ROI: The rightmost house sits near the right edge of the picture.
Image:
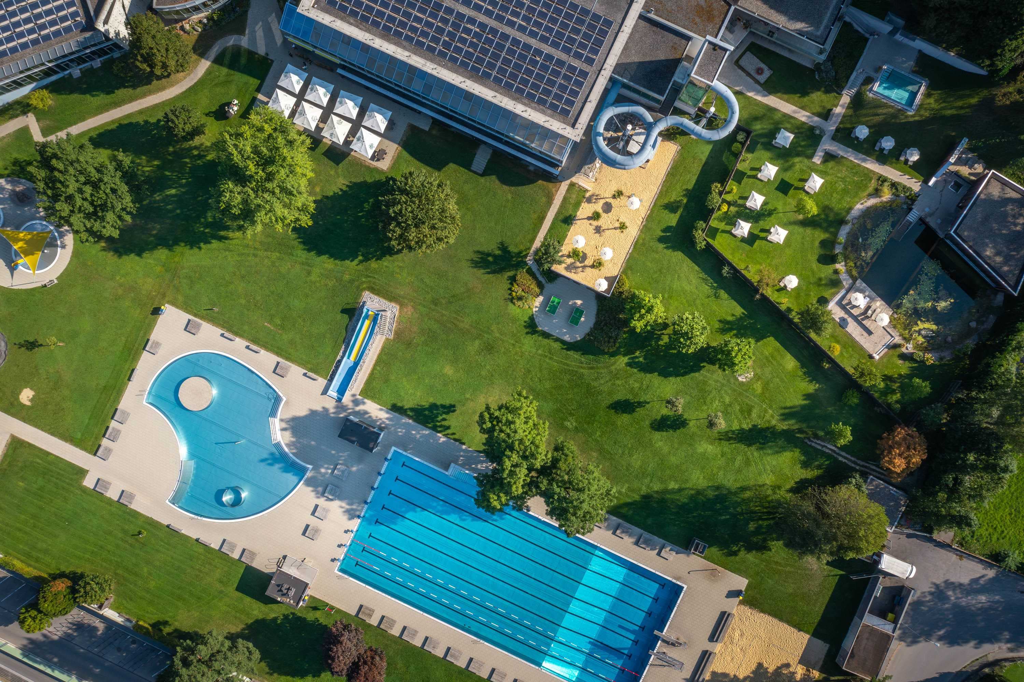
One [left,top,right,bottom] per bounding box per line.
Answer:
[936,170,1024,296]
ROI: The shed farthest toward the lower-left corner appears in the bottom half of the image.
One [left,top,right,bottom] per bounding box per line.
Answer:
[266,554,319,609]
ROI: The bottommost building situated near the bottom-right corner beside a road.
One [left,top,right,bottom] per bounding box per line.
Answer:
[835,571,914,680]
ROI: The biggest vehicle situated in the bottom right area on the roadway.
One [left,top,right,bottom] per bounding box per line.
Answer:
[873,552,914,579]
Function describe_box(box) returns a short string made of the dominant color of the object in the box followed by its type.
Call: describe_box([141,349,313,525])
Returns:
blue swimming pool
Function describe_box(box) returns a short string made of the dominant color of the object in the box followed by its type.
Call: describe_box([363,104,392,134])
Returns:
white umbrella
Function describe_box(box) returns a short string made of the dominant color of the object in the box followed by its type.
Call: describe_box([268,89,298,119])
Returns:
white umbrella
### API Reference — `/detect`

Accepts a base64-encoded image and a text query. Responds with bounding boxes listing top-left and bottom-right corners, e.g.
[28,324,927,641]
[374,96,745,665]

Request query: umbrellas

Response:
[757,162,776,181]
[774,129,794,148]
[293,101,323,131]
[782,276,796,289]
[595,278,608,291]
[803,174,823,193]
[572,235,585,248]
[363,104,392,134]
[881,137,894,150]
[278,65,308,94]
[627,197,640,209]
[731,219,751,239]
[876,314,889,326]
[768,224,788,244]
[334,91,363,120]
[745,191,765,211]
[600,247,612,259]
[304,78,334,108]
[322,115,352,145]
[268,89,298,119]
[855,125,868,139]
[905,148,921,161]
[350,128,381,159]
